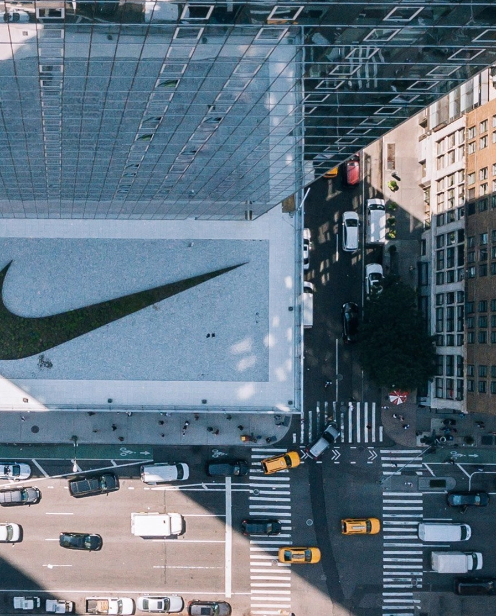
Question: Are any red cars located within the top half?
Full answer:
Yes, I can see a red car within the top half.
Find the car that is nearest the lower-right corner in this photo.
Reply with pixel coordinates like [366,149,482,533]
[455,575,496,598]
